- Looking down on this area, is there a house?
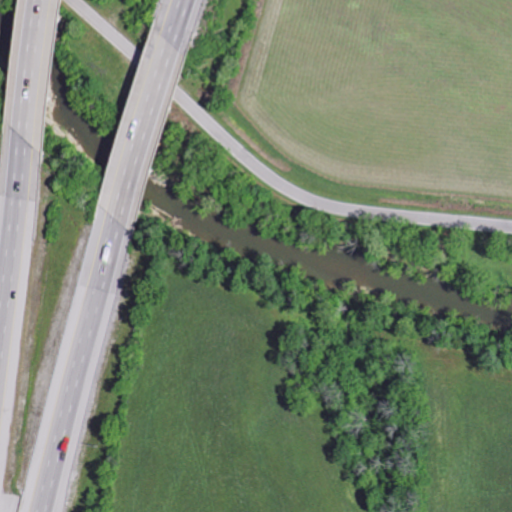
No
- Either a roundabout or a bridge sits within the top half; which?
bridge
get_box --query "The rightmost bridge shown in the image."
[96,20,186,238]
